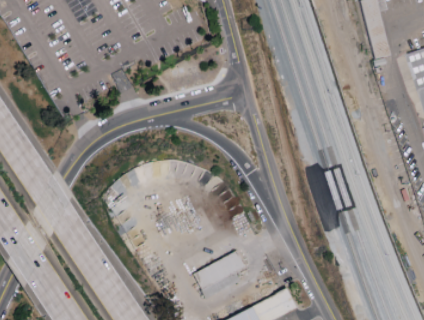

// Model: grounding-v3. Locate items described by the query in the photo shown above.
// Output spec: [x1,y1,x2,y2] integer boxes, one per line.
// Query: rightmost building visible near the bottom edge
[253,288,298,320]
